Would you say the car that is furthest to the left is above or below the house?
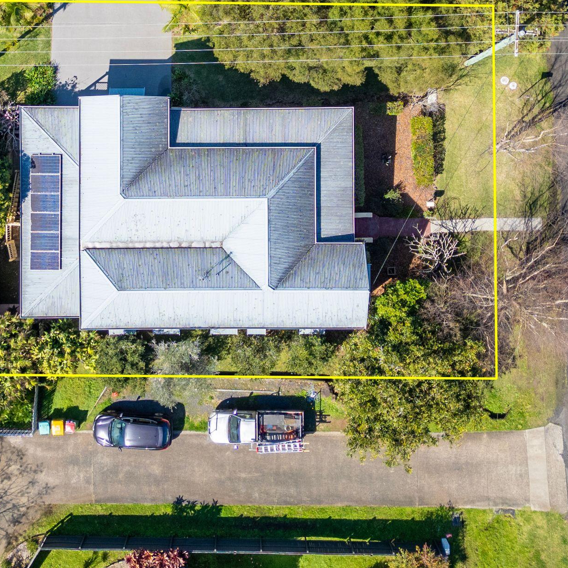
below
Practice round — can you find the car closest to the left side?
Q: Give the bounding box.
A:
[93,414,173,456]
